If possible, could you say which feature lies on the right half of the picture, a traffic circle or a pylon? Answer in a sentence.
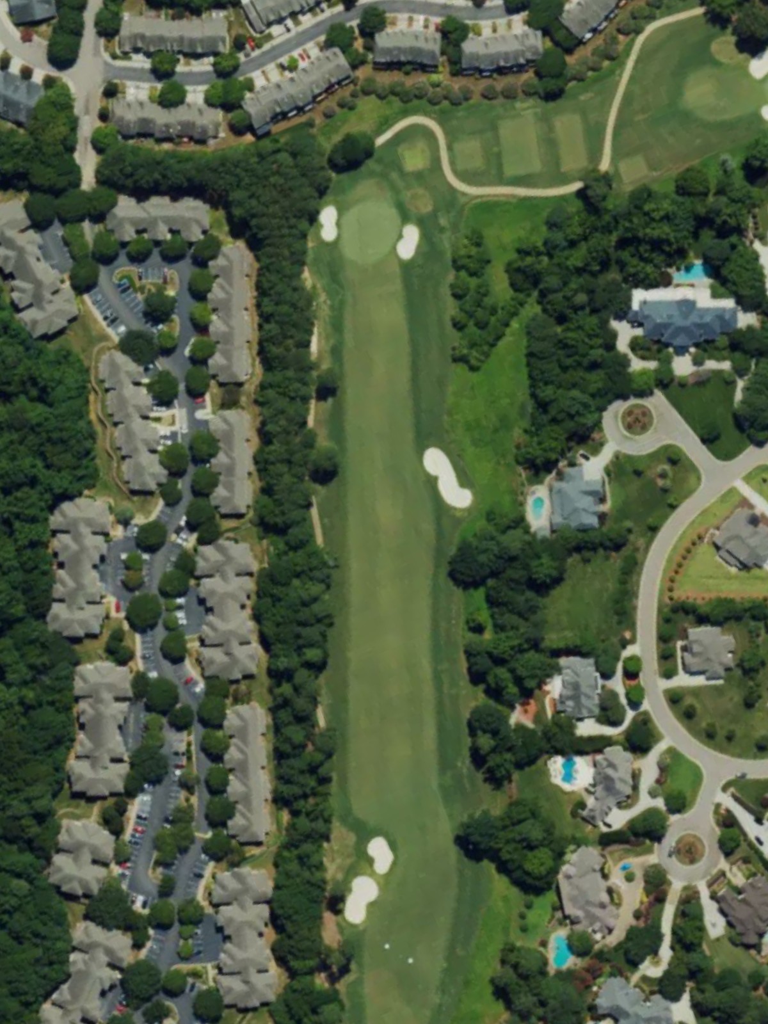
The one visible on the right half of the picture is a traffic circle.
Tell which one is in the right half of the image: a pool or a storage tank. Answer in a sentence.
You can see a pool in the right half of the image.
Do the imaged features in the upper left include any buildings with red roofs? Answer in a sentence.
No, the scene shows no building with a red roof in the upper left.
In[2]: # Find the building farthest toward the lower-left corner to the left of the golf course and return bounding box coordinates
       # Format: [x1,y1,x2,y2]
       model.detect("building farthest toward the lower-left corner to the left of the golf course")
[41,916,131,1024]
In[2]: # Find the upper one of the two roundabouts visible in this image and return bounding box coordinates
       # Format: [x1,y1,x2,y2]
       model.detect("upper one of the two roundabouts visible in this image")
[602,388,668,453]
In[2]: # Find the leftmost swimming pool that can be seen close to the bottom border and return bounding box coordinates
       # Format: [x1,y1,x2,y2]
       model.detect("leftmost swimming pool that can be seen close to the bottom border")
[549,929,577,974]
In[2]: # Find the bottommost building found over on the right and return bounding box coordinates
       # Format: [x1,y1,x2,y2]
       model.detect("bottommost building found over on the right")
[592,973,677,1024]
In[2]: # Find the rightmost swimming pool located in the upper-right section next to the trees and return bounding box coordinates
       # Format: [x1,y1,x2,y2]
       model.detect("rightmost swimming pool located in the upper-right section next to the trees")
[670,260,716,291]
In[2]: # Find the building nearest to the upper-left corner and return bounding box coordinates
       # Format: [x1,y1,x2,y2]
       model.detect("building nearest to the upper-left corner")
[7,0,58,29]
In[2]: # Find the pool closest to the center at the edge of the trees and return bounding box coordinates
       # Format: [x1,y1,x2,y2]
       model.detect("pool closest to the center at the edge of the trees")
[526,484,551,530]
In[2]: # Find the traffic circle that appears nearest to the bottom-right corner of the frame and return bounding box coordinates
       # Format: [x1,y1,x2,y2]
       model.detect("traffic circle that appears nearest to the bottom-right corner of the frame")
[660,818,721,879]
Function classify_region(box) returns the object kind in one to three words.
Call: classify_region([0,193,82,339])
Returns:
building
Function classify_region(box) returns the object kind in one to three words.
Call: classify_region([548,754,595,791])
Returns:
swimming pool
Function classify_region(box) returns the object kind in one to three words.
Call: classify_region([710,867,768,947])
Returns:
house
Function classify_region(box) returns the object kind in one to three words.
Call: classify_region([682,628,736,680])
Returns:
house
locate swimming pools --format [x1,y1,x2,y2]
[549,929,577,974]
[548,754,595,791]
[670,260,716,291]
[618,861,633,873]
[526,484,551,530]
